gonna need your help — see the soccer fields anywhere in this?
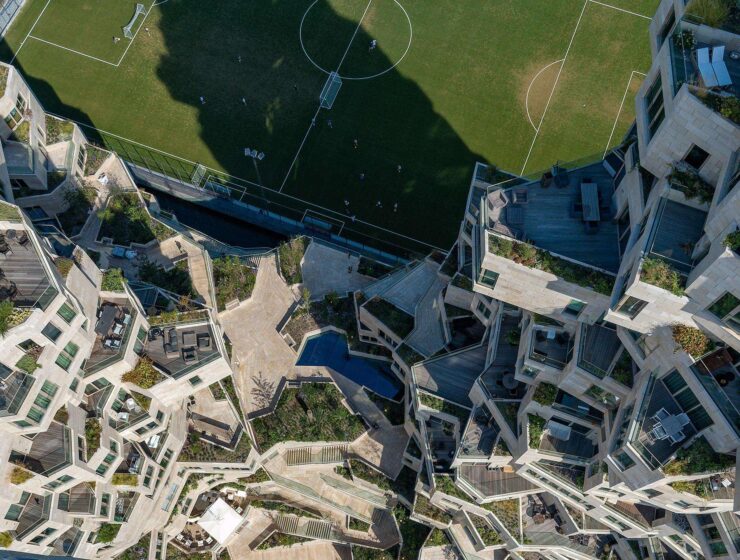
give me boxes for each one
[0,0,684,259]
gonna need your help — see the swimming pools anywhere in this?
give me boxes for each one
[298,330,404,401]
